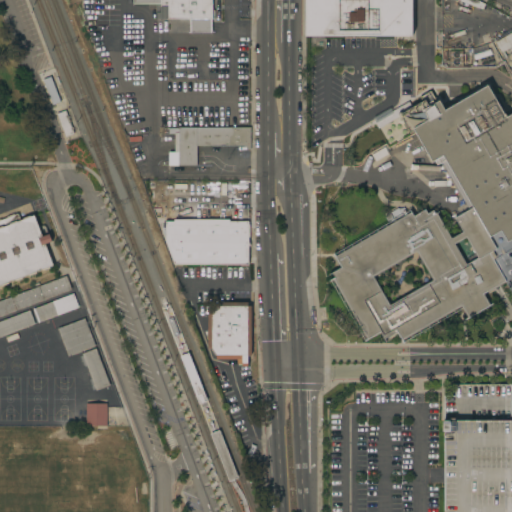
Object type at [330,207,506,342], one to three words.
building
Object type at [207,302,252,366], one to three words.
building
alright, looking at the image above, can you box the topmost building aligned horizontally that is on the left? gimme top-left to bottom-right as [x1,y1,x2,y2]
[133,0,214,33]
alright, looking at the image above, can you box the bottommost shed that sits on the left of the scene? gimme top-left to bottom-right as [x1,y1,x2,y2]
[86,400,108,429]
